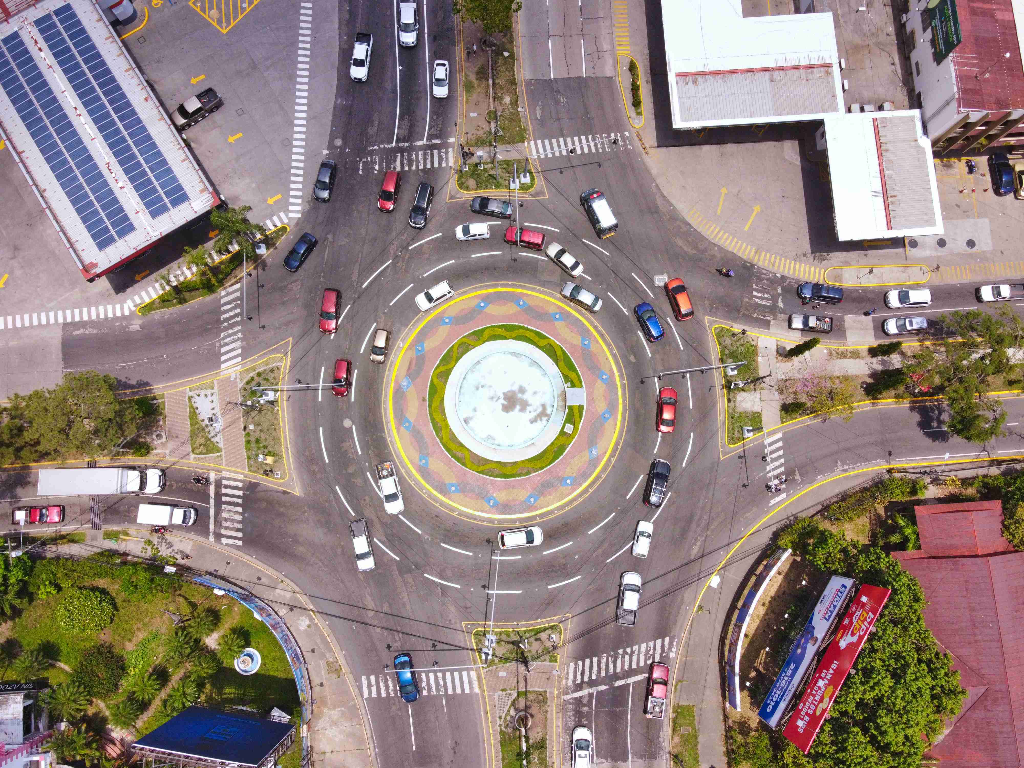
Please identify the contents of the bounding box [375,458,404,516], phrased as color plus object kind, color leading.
white truck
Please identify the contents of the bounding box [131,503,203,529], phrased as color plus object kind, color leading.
white truck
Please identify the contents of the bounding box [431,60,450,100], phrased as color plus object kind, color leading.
white car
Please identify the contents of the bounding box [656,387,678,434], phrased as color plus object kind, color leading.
red car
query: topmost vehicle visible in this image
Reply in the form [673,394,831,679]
[398,0,418,44]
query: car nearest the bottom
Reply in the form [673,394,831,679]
[571,725,593,768]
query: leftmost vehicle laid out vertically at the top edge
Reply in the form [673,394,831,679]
[349,31,373,84]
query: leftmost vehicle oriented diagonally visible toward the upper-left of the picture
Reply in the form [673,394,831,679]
[172,87,225,129]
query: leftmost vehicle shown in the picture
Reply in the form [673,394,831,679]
[10,504,68,525]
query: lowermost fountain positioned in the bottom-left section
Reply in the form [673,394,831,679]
[232,648,261,678]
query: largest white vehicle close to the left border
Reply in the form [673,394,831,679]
[25,467,172,496]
